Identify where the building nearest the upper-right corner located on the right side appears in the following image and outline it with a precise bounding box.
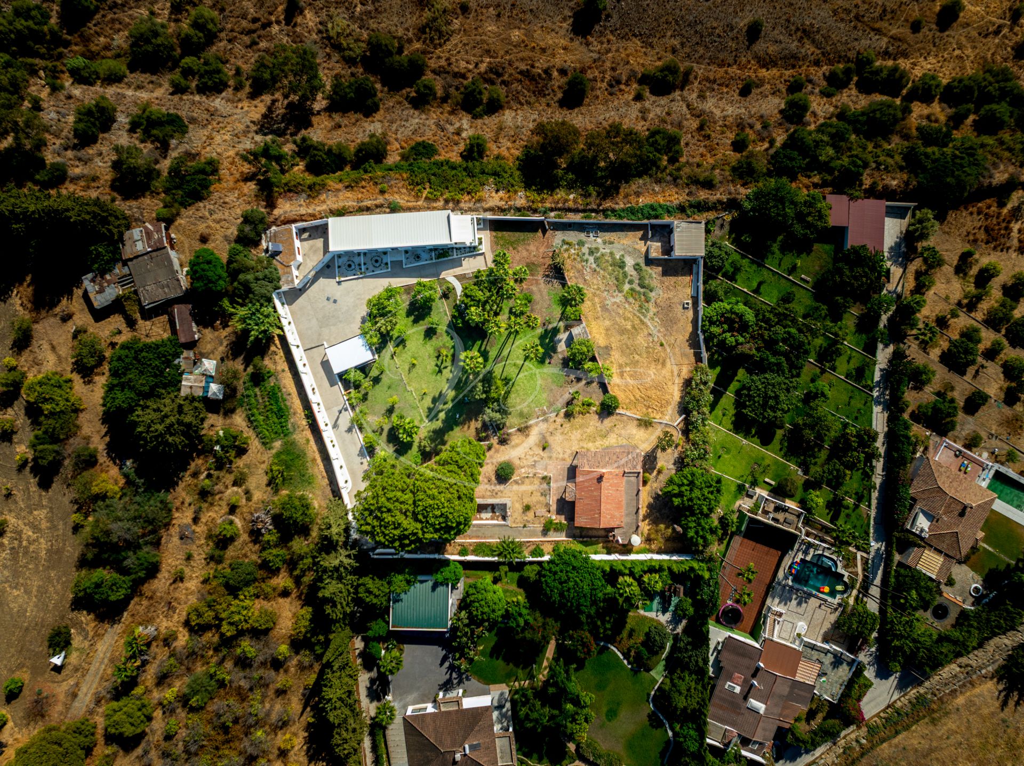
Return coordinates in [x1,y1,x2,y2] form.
[826,195,885,256]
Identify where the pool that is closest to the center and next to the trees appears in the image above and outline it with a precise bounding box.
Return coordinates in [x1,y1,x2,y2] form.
[472,499,512,526]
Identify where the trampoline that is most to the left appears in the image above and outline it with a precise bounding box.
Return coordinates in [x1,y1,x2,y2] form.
[718,602,743,627]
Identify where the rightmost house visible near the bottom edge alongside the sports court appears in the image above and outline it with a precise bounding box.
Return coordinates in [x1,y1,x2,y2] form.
[703,632,822,759]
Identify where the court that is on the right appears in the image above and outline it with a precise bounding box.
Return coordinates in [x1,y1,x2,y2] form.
[715,535,785,633]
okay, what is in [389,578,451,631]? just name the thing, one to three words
building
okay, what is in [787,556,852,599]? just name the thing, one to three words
swimming pool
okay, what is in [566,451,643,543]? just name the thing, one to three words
house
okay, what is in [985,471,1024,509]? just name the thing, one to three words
swimming pool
